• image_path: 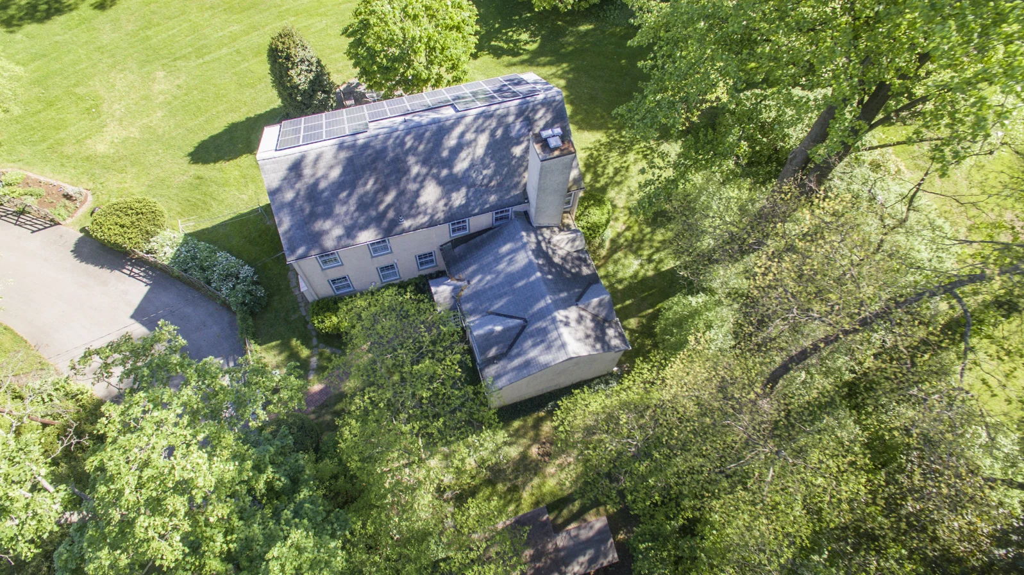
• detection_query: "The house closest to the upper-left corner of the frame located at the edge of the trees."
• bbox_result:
[256,72,632,407]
